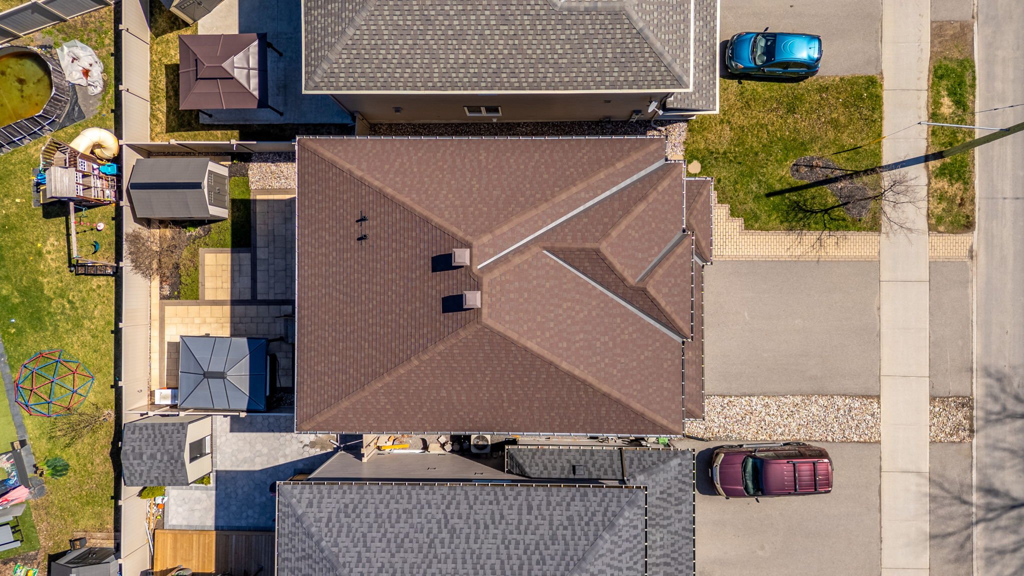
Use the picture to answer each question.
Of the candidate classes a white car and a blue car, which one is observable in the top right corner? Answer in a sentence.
You can see a blue car in the top right corner.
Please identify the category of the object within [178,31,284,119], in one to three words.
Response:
gazebo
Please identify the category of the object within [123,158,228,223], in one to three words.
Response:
shed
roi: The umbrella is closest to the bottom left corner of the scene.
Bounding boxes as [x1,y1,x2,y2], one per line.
[0,485,28,505]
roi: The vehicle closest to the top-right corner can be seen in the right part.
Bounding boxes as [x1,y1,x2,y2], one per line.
[725,27,825,83]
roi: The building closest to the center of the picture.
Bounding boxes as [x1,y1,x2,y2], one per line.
[296,135,713,444]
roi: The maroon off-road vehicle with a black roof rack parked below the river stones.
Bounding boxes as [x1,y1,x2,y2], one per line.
[711,442,833,503]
